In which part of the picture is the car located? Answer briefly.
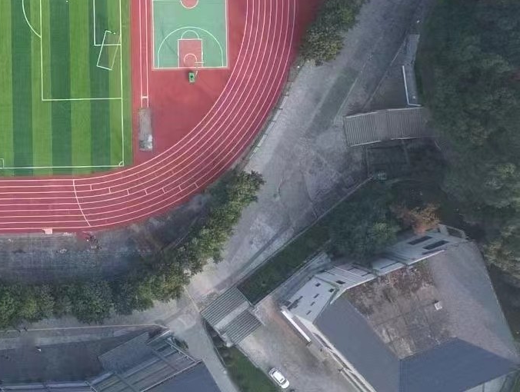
bottom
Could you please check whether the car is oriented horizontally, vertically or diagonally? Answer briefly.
diagonally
